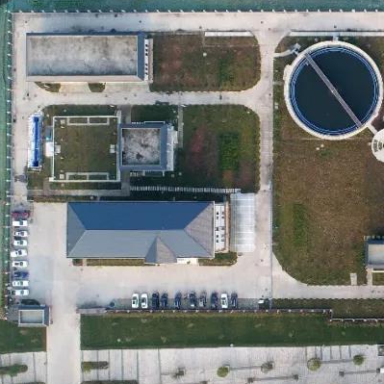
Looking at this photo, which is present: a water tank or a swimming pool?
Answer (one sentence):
There is a water tank in the scene.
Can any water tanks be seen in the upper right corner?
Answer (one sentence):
Yes, you'll find a water tank in the upper right corner.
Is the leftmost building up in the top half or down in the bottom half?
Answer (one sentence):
The leftmost building is in the bottom half of the image.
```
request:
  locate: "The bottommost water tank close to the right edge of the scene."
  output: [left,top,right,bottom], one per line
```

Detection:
[280,41,384,140]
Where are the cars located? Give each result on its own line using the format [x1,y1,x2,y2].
[19,297,37,304]
[198,293,206,308]
[209,293,217,308]
[11,280,27,287]
[138,293,147,308]
[9,220,27,228]
[12,231,27,237]
[11,213,28,220]
[9,249,25,257]
[158,293,168,308]
[149,293,158,308]
[230,293,237,308]
[11,290,27,297]
[219,293,227,308]
[188,293,196,308]
[10,261,26,268]
[12,240,27,246]
[11,271,27,278]
[173,293,181,308]
[129,293,138,308]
